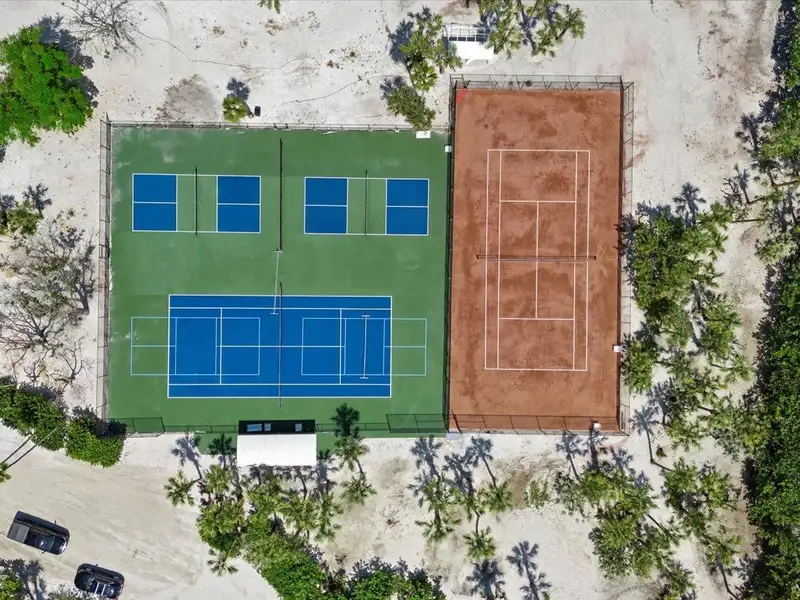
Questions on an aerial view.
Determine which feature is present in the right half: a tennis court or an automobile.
tennis court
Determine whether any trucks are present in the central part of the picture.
No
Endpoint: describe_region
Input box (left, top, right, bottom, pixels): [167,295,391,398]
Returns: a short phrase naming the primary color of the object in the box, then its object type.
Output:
blue tennis court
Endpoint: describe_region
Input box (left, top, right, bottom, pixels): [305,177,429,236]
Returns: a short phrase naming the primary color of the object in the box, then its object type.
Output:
blue sports court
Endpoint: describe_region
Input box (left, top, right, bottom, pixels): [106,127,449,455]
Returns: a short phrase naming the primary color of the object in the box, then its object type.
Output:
green sports court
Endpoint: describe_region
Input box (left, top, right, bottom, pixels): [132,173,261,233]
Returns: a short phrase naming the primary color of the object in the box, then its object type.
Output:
blue sports court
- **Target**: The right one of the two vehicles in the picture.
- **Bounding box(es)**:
[76,569,125,599]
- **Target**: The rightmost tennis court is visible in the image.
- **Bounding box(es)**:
[451,88,620,430]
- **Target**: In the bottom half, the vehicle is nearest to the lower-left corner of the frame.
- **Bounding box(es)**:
[9,521,66,554]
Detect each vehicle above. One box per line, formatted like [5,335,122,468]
[9,521,66,554]
[76,569,125,599]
